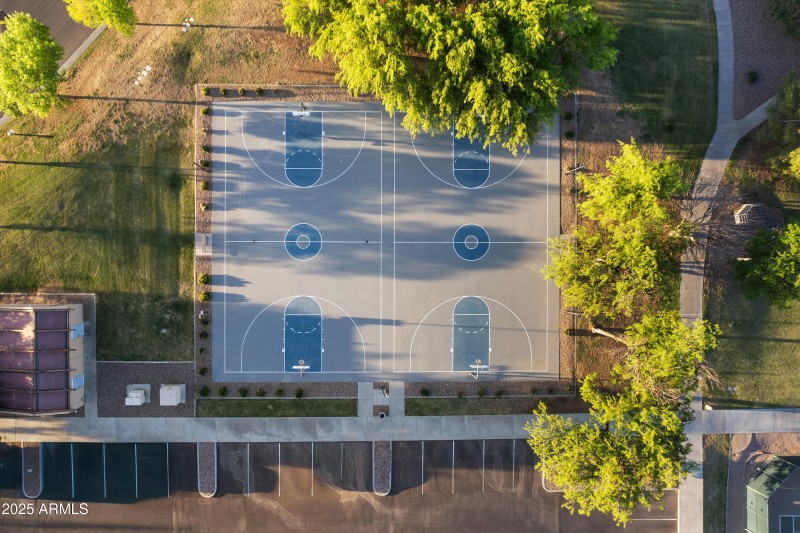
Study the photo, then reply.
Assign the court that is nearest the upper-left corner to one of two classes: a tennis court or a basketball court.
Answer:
basketball court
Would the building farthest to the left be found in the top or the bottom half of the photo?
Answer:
bottom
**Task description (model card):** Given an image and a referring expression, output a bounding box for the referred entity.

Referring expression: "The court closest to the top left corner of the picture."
[211,102,388,381]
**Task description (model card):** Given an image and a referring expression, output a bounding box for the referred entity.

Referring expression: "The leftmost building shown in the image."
[0,303,84,417]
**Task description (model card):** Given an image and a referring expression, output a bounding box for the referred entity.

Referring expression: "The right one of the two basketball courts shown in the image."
[388,102,559,381]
